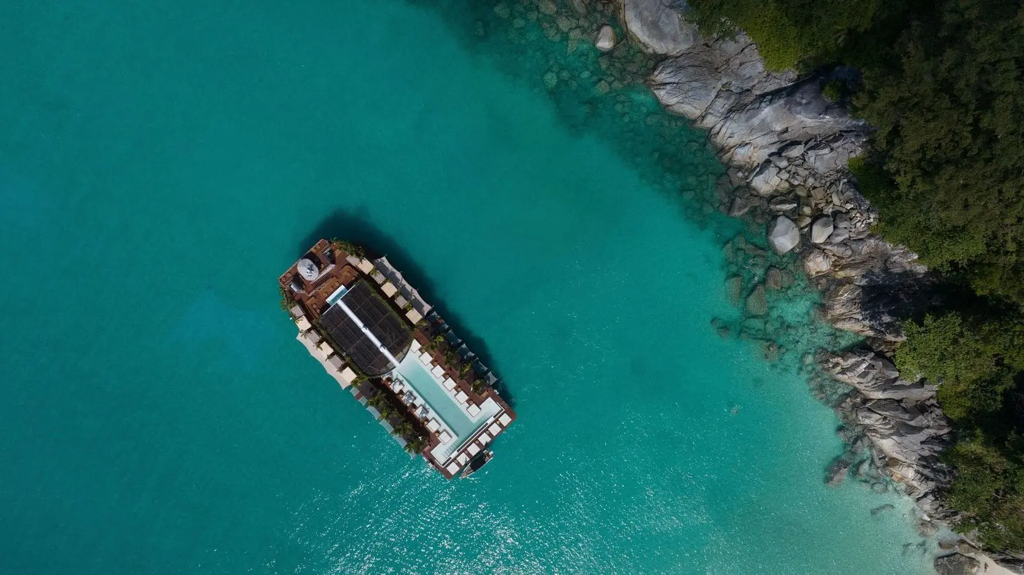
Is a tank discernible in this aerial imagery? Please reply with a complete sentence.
No, there's no tank here.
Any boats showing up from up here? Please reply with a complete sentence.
Yes, you can see a boat in this photo.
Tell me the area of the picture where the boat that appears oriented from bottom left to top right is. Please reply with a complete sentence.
The boat that appears oriented from bottom left to top right appears toward the bottom of the photo.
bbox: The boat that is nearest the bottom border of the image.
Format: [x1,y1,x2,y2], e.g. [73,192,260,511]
[459,450,495,479]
